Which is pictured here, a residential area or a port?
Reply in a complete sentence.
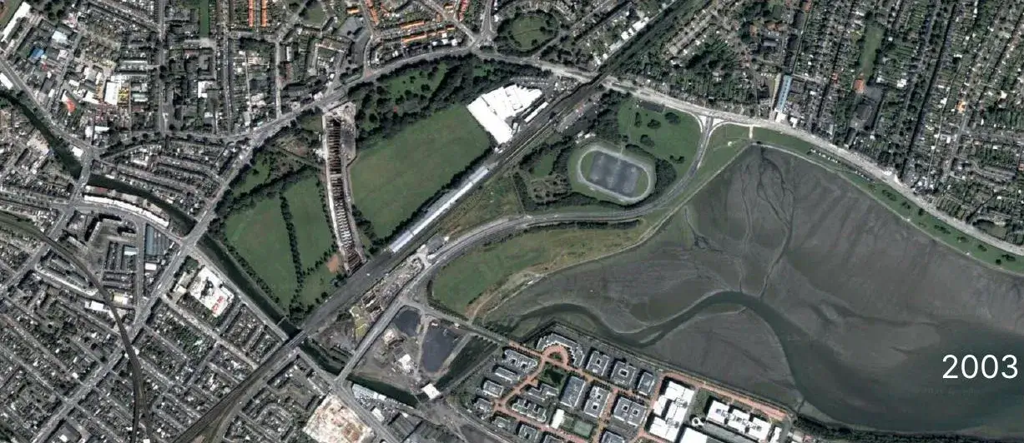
What you see here is a residential area.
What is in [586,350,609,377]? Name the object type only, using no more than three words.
building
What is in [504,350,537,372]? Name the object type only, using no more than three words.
building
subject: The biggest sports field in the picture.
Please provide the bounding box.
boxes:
[350,103,491,250]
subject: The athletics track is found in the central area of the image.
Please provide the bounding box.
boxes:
[575,144,657,205]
